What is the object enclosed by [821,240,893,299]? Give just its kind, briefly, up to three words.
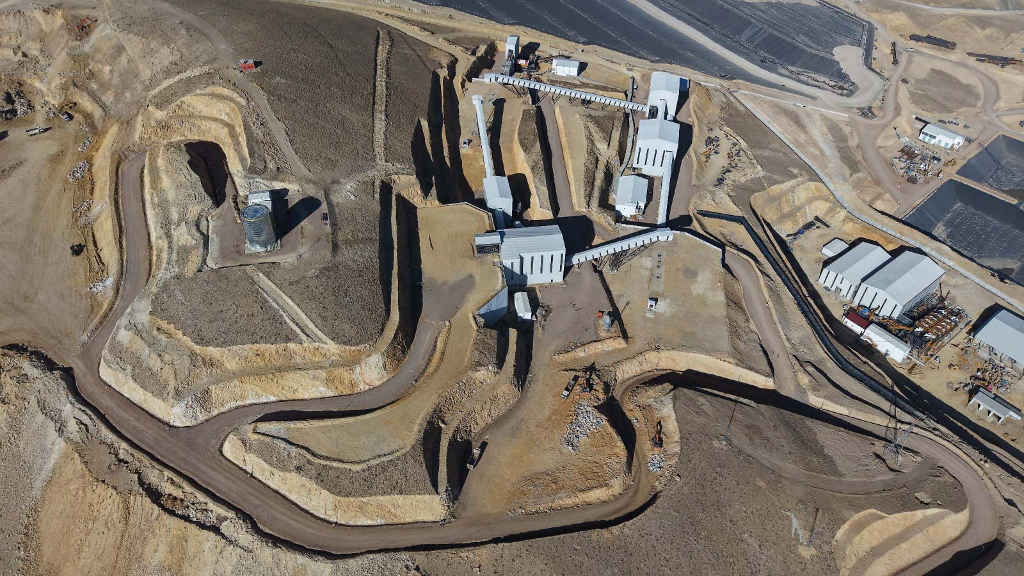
building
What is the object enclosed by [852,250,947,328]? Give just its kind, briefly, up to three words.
building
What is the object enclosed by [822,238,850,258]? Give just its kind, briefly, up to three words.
shed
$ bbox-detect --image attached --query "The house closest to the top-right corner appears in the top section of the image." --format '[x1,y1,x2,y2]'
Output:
[921,122,969,153]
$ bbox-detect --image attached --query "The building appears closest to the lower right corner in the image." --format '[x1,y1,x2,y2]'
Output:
[967,390,1024,428]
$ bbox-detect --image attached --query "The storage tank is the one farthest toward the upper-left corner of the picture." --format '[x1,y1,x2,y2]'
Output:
[236,204,280,258]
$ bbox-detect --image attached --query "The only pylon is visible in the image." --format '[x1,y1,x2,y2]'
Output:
[877,419,919,467]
